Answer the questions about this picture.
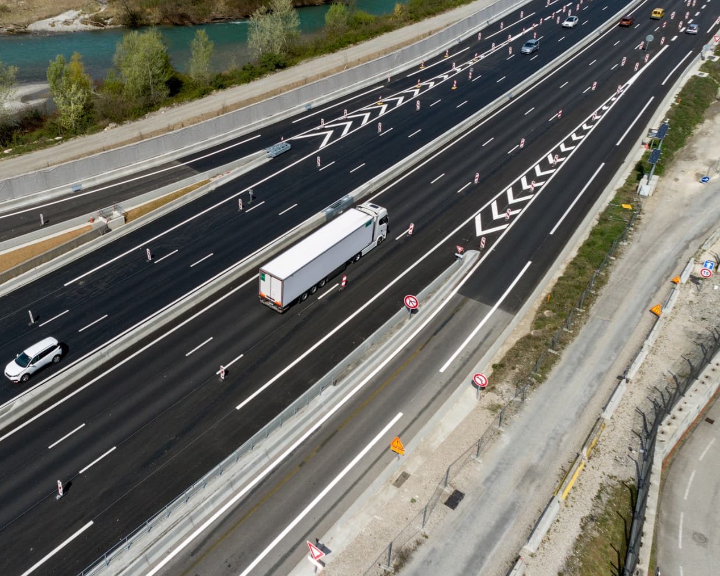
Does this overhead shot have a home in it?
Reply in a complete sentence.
No, the scene contains no home.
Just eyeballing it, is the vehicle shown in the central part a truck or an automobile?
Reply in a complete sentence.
I'd identify the vehicle shown in the central part as a truck.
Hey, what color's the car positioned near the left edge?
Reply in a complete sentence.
In this view, the car positioned near the left edge is white.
